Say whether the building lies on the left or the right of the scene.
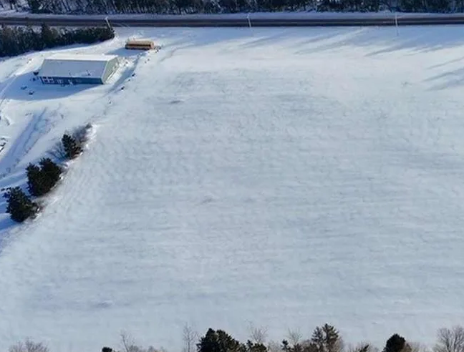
left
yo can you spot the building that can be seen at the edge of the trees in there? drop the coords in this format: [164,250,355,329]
[38,56,119,85]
